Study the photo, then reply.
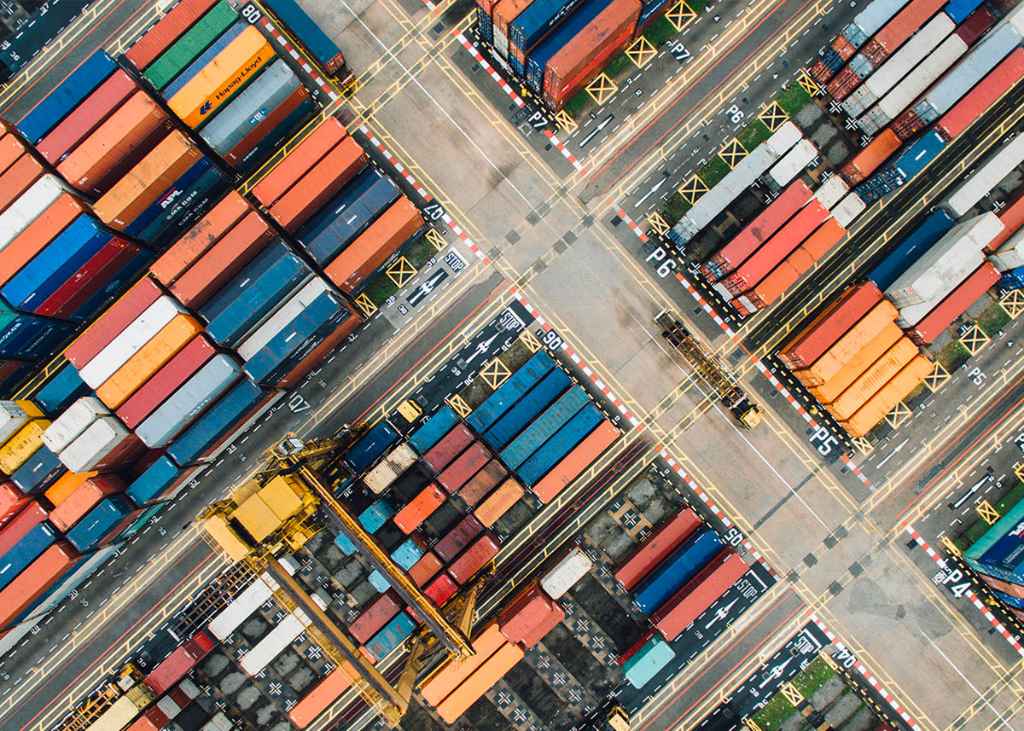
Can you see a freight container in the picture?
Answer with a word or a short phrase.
Yes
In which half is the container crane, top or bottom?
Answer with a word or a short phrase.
bottom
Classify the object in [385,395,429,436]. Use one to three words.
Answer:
truck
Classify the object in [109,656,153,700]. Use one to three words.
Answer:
truck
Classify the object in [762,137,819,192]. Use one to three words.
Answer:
shipping container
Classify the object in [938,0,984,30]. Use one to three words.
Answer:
shipping container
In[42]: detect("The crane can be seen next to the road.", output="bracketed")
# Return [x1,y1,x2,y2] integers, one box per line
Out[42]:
[198,421,493,731]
